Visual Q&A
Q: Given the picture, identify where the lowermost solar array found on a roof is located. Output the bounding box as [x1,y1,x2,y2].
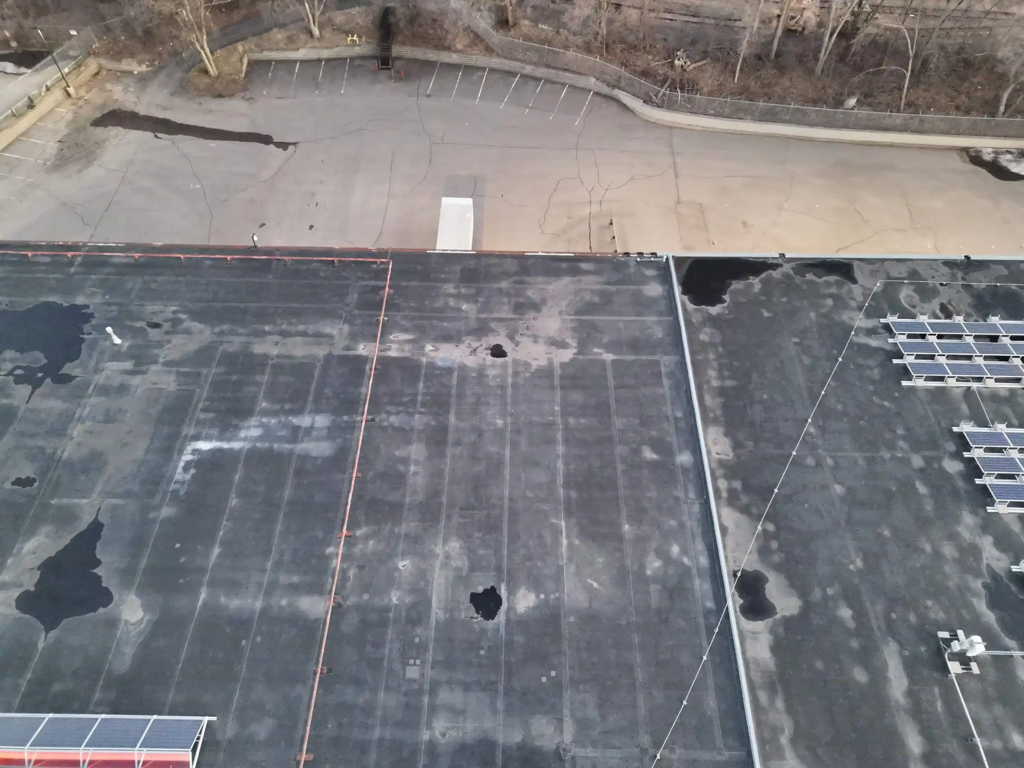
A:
[0,713,217,768]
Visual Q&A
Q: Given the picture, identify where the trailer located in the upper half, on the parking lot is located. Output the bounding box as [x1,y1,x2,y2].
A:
[435,198,474,250]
